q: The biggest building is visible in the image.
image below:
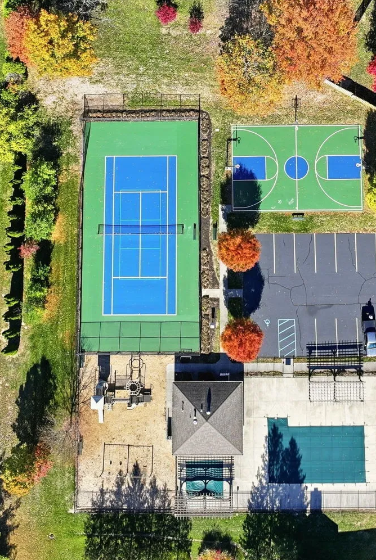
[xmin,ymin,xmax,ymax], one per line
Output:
[172,381,243,457]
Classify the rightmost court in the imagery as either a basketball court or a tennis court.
basketball court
